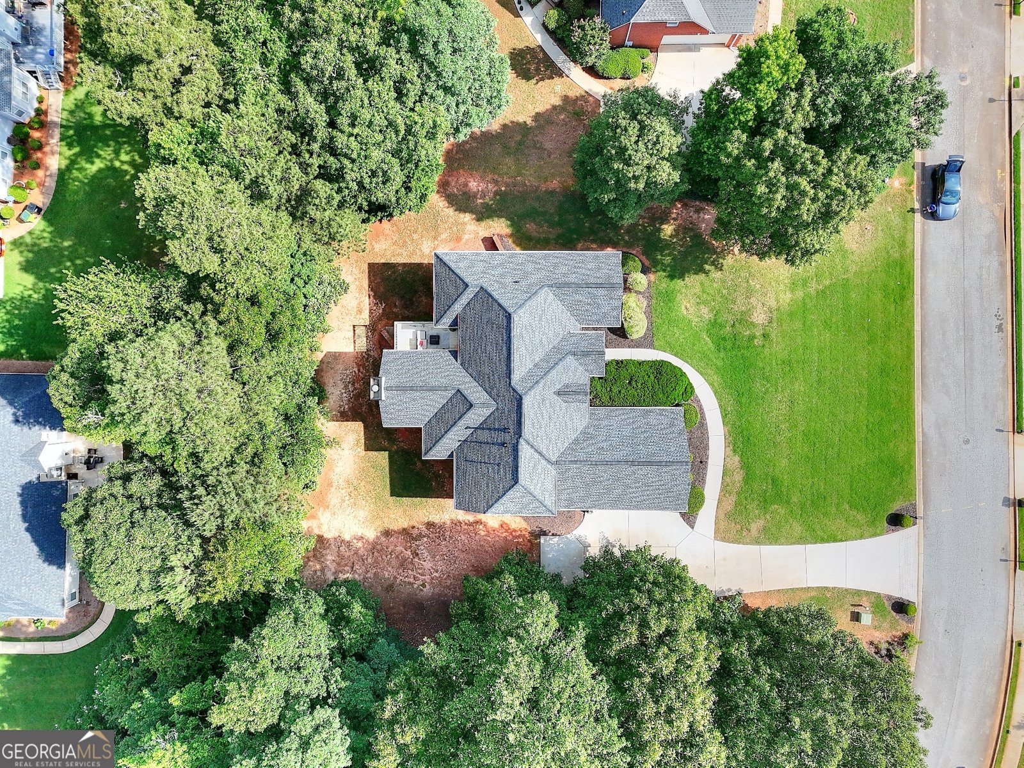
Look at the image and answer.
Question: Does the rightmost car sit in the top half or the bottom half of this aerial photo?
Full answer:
The rightmost car sits in the top half of the picture.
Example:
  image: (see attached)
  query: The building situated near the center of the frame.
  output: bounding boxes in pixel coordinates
[369,250,692,516]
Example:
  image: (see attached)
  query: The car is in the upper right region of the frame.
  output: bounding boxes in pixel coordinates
[931,151,967,220]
